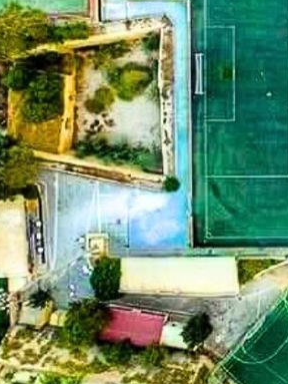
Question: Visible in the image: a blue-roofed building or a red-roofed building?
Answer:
red-roofed building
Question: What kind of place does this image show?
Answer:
sports ground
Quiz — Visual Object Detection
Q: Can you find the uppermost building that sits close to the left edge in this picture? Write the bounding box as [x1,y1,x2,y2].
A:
[0,195,34,278]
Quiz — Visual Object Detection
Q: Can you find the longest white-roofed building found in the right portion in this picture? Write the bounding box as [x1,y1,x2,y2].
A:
[119,253,244,294]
